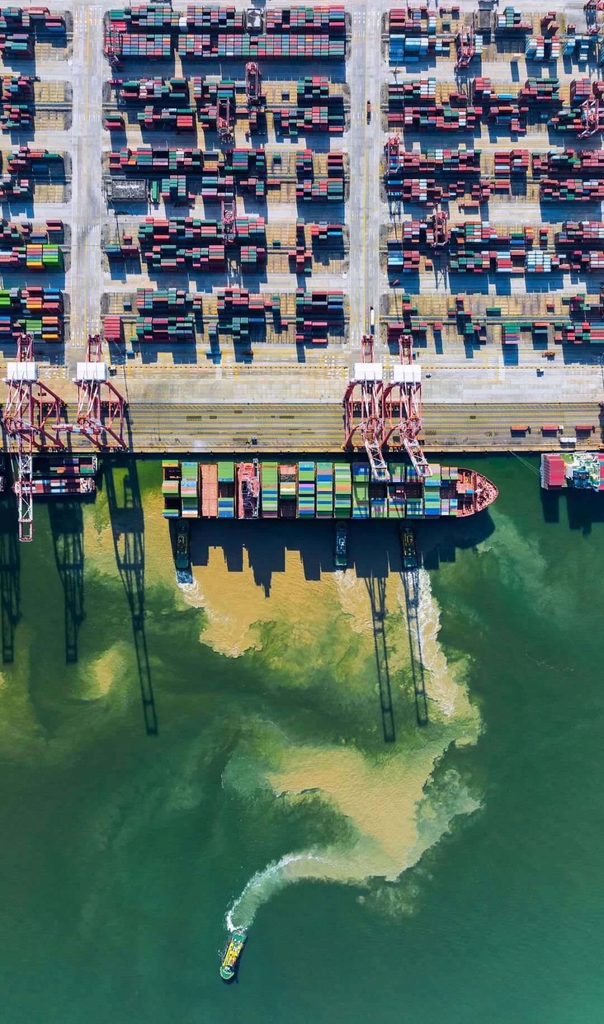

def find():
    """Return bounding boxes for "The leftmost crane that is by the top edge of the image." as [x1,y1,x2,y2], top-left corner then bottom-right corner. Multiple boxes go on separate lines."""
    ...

[101,21,123,73]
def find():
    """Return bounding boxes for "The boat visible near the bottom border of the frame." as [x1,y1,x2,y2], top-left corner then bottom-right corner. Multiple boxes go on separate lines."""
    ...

[220,930,245,982]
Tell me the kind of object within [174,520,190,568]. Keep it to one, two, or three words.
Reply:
boat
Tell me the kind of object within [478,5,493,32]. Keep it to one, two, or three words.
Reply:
shed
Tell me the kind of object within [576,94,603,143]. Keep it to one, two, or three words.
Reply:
crane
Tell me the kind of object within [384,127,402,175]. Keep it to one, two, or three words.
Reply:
crane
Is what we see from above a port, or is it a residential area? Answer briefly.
port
